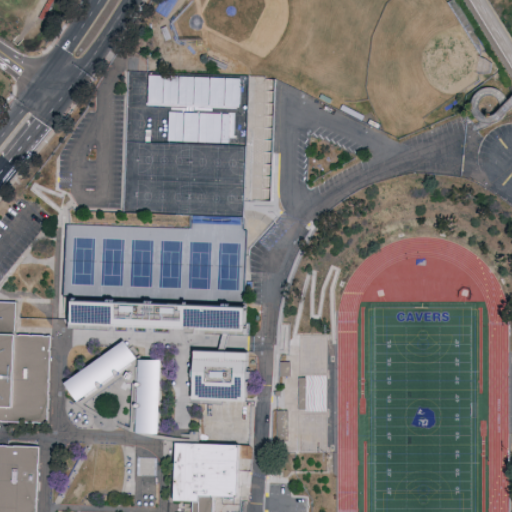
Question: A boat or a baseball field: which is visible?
baseball field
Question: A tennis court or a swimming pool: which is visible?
tennis court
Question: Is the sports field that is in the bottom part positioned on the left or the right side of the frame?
right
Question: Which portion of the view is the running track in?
bottom right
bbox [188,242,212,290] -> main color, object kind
blue tennis court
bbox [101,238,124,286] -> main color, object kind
blue tennis court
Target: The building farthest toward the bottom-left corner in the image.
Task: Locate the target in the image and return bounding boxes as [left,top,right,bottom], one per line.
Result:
[0,446,40,512]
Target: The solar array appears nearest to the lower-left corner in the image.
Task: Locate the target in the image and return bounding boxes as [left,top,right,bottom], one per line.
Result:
[72,306,110,324]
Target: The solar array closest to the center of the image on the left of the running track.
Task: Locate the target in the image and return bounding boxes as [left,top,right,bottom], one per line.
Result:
[184,310,238,328]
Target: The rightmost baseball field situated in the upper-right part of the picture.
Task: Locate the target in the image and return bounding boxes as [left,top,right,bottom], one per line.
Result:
[422,28,492,94]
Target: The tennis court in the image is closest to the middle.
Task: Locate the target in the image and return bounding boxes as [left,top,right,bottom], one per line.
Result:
[218,242,240,290]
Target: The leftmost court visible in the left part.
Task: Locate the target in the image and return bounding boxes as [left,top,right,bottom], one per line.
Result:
[72,238,96,285]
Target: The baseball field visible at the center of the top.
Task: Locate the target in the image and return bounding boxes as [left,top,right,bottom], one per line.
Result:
[176,0,288,58]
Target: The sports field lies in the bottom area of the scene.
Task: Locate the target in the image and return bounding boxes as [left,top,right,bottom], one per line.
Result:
[358,302,488,512]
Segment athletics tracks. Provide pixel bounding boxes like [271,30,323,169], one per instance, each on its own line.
[338,236,508,512]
